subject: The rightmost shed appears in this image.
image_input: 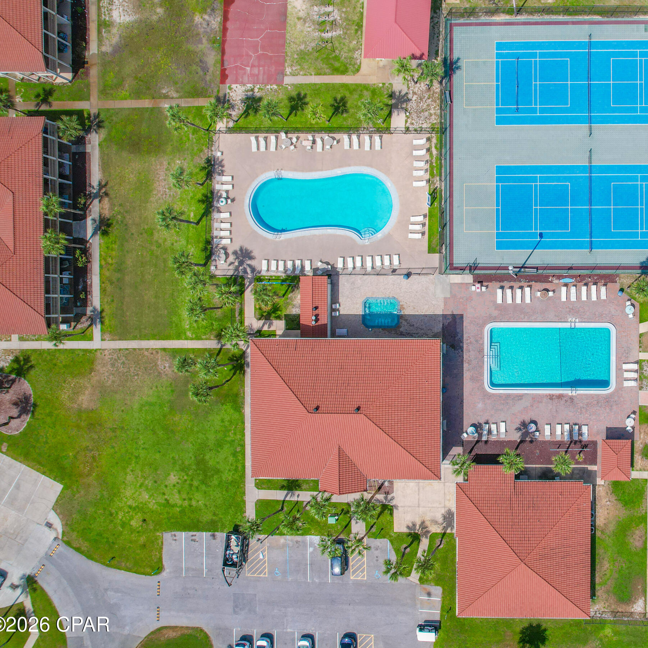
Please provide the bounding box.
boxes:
[601,438,632,482]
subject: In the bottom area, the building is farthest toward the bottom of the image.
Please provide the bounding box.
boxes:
[454,464,593,620]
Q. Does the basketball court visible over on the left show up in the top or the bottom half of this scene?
top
